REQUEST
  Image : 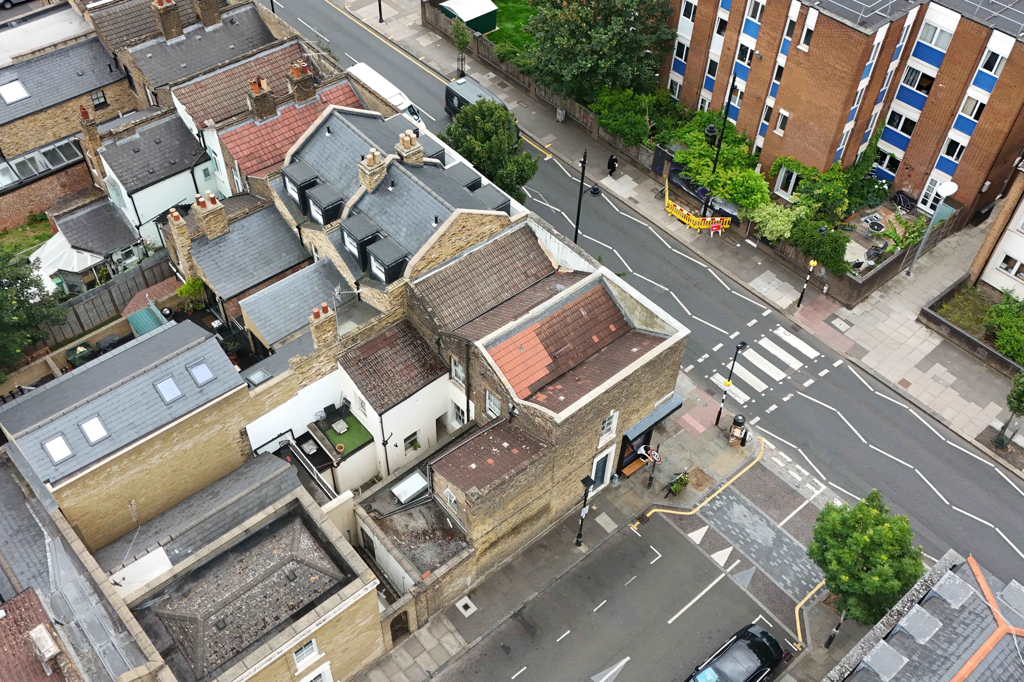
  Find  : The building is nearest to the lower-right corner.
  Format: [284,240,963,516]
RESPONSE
[822,549,1024,682]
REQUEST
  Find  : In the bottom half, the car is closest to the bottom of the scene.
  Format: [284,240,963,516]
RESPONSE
[690,622,790,682]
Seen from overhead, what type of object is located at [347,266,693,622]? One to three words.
house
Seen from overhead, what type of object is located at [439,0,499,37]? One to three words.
shed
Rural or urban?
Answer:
urban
